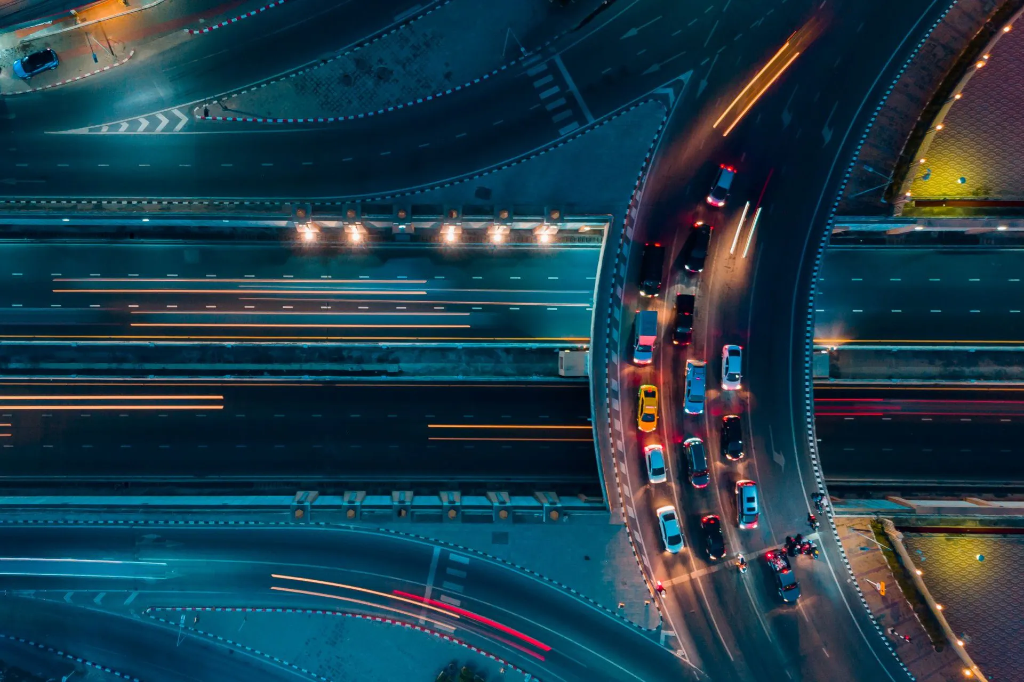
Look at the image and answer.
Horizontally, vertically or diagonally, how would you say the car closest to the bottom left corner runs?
horizontally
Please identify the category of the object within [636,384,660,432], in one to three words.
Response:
car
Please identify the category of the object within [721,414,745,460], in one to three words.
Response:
car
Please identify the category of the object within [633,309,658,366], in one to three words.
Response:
truck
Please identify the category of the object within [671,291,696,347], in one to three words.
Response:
truck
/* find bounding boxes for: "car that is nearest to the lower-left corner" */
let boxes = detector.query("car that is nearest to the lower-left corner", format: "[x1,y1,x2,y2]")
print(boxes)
[101,557,156,583]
